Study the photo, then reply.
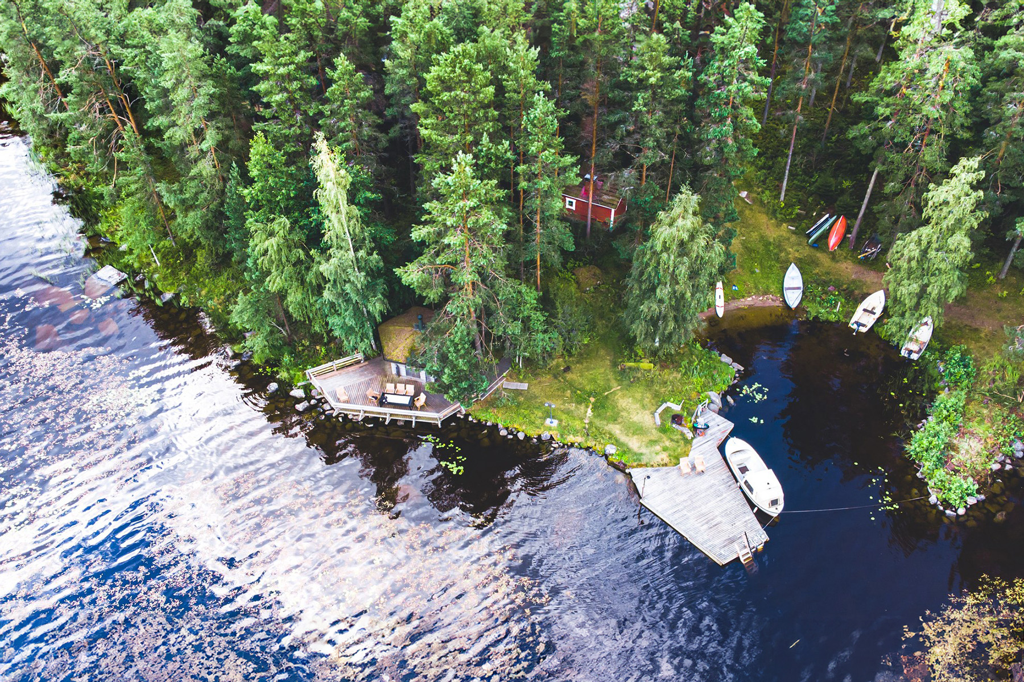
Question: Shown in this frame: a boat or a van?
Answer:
boat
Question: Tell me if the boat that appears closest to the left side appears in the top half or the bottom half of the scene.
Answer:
bottom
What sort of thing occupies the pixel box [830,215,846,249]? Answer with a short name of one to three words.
boat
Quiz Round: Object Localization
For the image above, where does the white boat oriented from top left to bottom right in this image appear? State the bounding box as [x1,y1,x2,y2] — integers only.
[726,439,780,511]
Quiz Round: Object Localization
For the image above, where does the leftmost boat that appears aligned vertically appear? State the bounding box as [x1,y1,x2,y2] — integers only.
[783,258,805,307]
